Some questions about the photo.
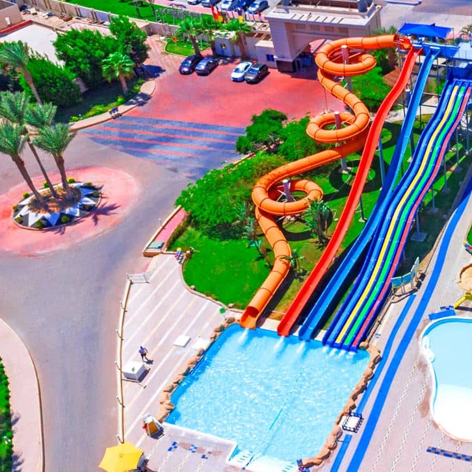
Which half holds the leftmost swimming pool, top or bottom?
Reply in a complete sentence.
Seen from above, the leftmost swimming pool lies in the bottom half of the view.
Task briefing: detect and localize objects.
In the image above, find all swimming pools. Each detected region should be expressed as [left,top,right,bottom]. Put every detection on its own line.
[418,316,472,441]
[162,323,370,472]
